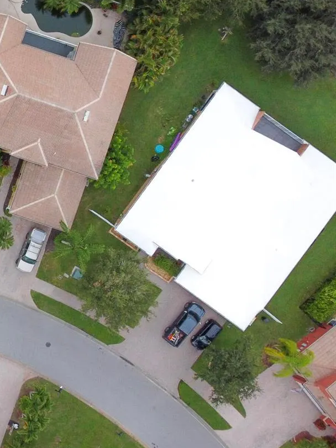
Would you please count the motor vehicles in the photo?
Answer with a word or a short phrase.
3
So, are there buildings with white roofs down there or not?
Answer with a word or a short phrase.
Yes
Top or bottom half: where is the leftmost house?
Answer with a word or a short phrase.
top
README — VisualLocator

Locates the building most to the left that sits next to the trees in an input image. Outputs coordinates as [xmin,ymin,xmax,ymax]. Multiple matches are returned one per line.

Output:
[0,11,137,230]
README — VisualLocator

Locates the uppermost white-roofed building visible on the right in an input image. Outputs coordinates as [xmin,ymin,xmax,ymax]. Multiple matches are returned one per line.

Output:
[111,81,336,332]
